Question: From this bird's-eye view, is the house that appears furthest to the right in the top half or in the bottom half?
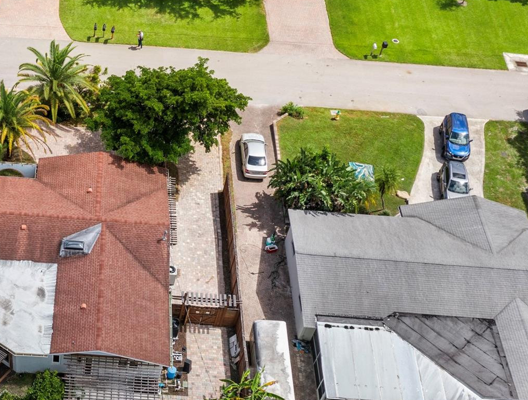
bottom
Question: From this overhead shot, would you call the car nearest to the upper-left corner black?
No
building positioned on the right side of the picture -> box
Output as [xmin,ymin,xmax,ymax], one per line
[285,196,528,400]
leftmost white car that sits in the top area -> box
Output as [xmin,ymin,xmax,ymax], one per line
[242,133,272,181]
